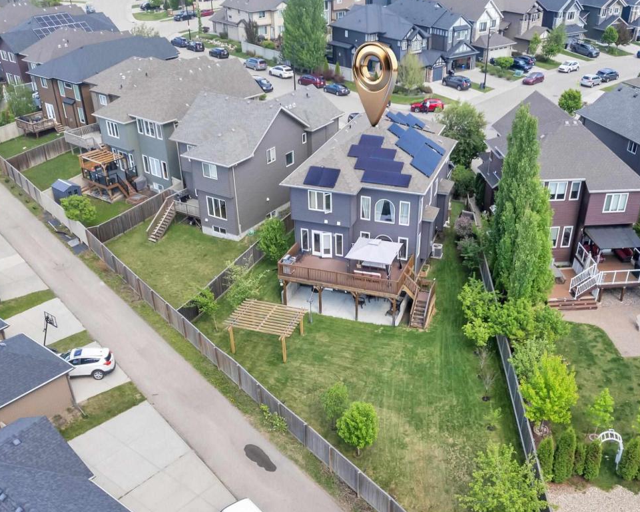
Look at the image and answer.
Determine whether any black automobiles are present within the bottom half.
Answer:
No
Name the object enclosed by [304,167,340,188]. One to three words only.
solar panel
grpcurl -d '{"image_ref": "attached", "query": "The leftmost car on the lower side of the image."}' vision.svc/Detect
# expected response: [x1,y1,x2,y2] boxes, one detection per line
[61,338,119,386]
